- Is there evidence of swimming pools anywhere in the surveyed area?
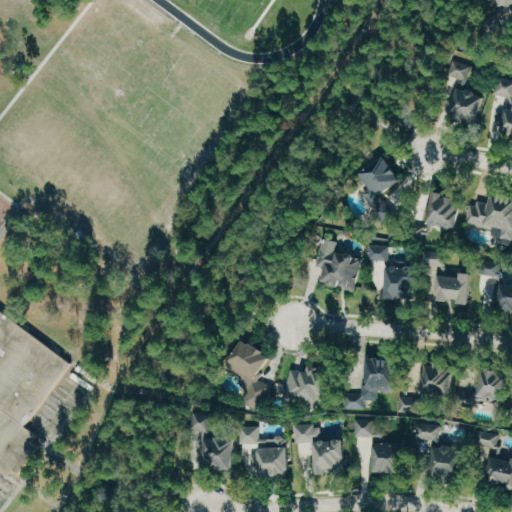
Yes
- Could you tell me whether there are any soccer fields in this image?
Yes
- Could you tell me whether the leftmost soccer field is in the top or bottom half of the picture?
top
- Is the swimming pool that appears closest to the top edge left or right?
right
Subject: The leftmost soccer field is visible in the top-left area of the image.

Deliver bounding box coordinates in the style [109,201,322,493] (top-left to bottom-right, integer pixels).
[55,35,131,109]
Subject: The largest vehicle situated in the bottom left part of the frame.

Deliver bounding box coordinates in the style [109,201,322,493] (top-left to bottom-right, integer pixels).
[69,374,93,392]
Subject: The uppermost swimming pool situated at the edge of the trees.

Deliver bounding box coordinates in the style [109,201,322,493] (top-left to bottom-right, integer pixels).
[345,190,371,218]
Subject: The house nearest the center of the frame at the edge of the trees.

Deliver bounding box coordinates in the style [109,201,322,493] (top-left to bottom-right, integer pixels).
[315,238,360,292]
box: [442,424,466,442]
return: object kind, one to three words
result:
swimming pool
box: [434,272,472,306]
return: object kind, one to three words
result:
house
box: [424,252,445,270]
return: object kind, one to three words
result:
building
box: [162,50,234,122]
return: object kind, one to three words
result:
soccer field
